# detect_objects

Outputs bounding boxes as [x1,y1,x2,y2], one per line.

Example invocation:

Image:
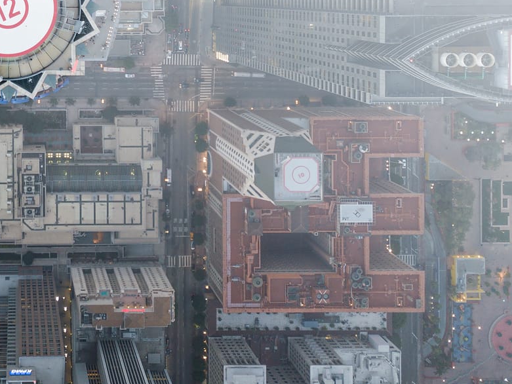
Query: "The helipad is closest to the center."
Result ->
[284,158,318,191]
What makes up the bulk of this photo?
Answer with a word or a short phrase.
buildings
